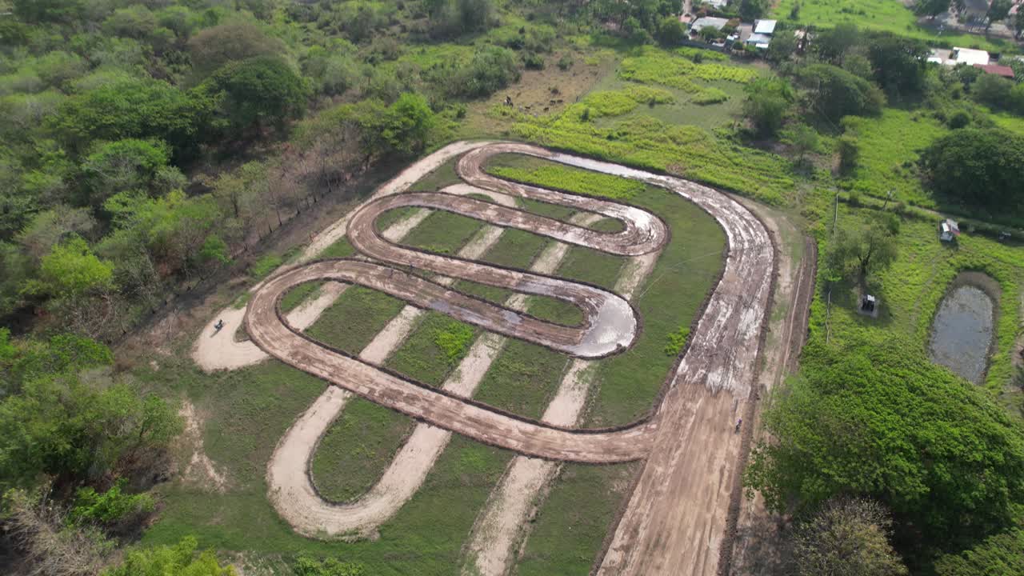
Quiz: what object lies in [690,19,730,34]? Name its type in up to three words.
house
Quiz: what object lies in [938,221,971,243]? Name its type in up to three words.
shed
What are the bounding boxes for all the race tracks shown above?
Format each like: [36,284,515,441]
[246,143,775,576]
